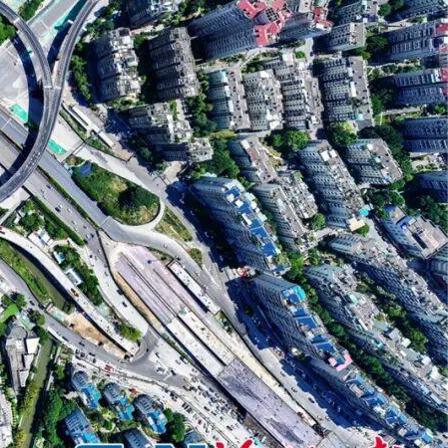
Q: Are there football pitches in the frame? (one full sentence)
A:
No, I can't see a single football pitch in this photo.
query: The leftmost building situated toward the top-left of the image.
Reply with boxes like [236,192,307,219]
[99,32,141,98]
